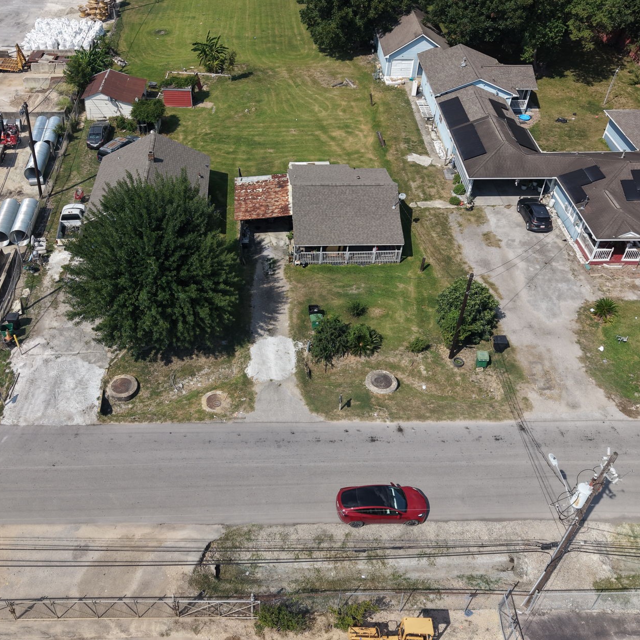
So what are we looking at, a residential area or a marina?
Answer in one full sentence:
The picture captures a residential area.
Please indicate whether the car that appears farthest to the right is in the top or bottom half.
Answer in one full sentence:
You can find the car that appears farthest to the right in the top half.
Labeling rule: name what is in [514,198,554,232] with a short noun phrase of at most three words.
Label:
car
